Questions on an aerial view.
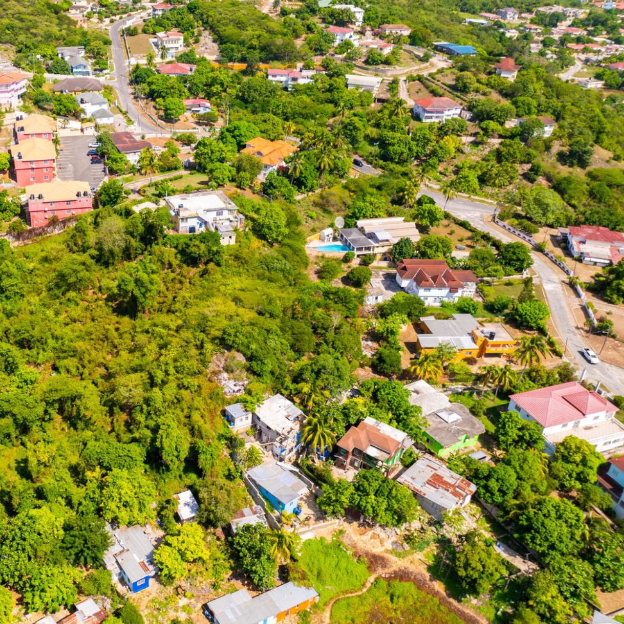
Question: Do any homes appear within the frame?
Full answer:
Yes, a home can be made out from above.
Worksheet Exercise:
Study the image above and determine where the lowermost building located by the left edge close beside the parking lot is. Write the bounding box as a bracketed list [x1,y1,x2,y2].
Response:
[19,183,91,227]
